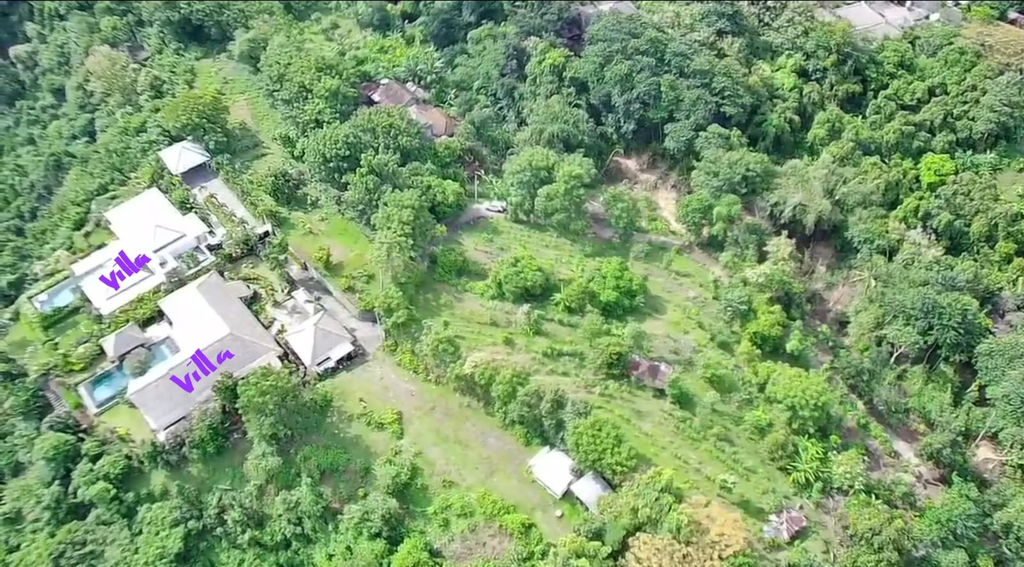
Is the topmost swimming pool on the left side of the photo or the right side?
left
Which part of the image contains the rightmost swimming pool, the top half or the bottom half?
bottom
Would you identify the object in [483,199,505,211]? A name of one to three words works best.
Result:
vehicle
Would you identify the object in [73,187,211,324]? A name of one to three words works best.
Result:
house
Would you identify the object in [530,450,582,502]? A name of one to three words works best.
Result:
shed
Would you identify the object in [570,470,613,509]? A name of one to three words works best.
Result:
shed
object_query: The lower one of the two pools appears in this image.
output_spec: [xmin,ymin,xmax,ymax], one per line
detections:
[78,333,181,417]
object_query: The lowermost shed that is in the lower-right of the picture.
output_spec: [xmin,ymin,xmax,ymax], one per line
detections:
[771,505,808,541]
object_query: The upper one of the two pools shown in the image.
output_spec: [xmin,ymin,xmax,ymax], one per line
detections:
[31,273,88,320]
